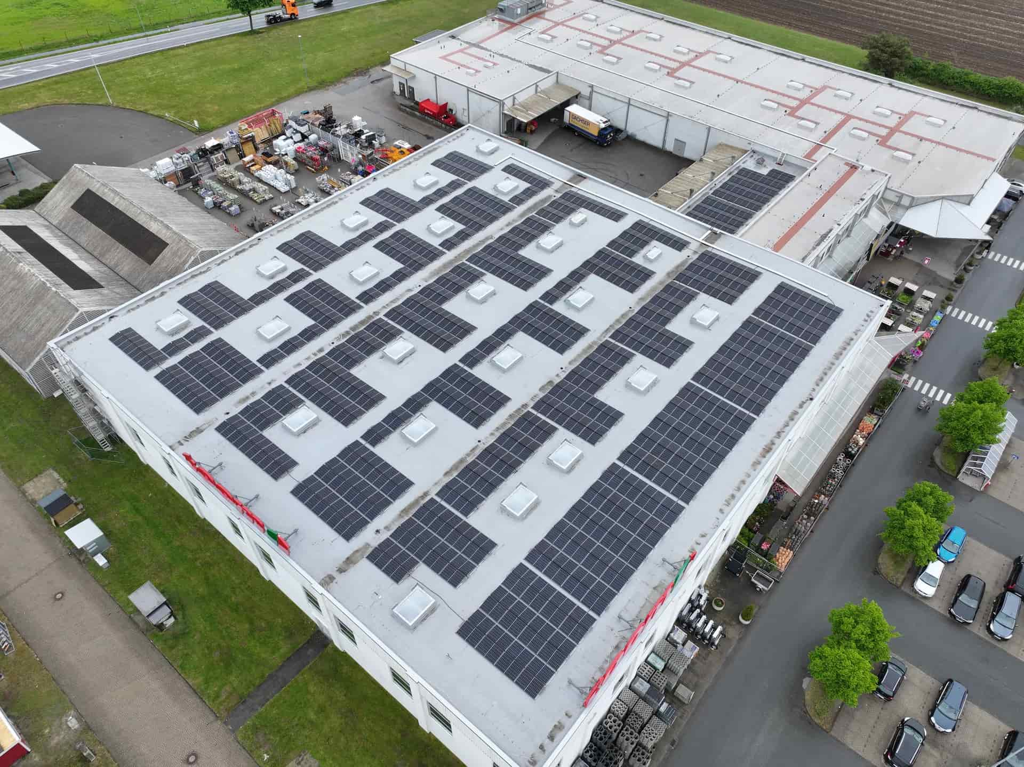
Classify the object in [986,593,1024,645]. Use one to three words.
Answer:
car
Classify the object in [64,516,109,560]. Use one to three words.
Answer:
shed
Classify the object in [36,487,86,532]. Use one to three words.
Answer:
shed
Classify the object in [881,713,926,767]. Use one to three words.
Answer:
car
